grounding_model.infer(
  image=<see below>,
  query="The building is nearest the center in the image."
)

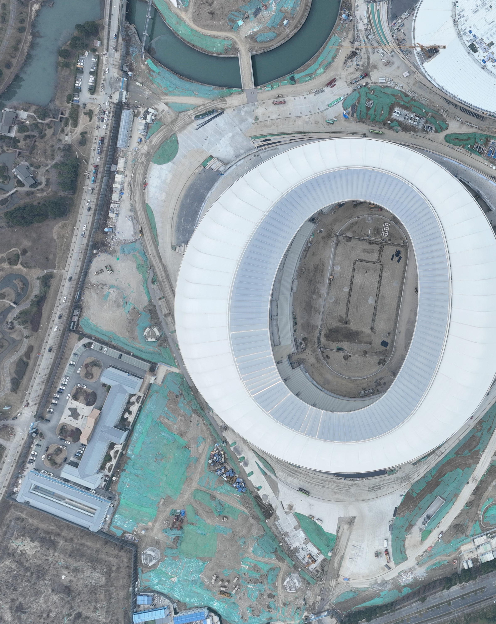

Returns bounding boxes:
[104,364,147,393]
